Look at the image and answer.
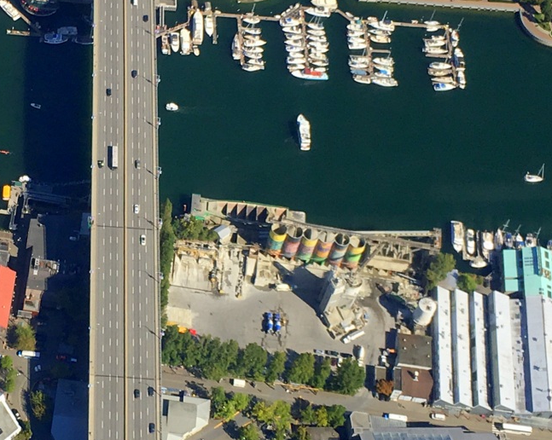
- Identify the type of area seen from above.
port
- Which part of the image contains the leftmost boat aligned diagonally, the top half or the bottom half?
top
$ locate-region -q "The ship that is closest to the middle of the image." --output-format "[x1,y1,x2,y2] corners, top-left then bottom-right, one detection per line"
[296,111,312,152]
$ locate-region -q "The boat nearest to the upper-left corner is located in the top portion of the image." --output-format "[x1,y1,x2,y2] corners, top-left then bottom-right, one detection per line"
[0,0,23,21]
